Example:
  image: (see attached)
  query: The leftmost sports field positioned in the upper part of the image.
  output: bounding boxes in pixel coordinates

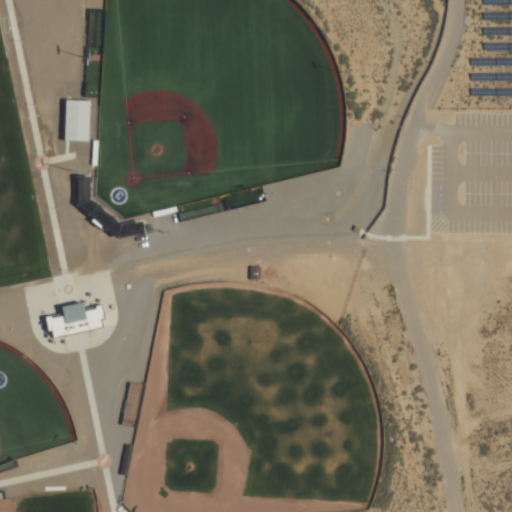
[0,31,52,286]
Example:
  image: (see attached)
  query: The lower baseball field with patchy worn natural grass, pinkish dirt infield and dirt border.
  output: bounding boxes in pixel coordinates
[120,282,383,512]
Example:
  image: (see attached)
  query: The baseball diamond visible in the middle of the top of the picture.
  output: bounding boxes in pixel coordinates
[97,0,346,218]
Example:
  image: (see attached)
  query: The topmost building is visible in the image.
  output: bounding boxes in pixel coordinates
[64,100,91,142]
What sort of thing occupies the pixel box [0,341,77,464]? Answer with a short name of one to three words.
baseball field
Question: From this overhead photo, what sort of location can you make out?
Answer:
sports ground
